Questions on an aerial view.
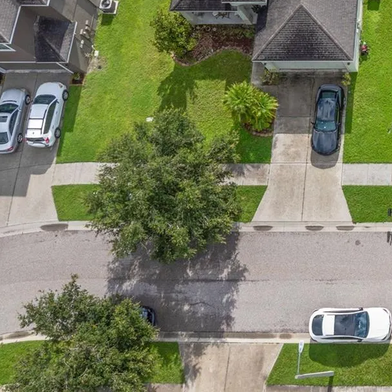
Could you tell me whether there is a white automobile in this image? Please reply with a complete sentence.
Yes, the photo shows a white automobile.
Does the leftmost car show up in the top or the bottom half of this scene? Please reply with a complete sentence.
The leftmost car is in the top half of the image.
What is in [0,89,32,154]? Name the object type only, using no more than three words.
car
